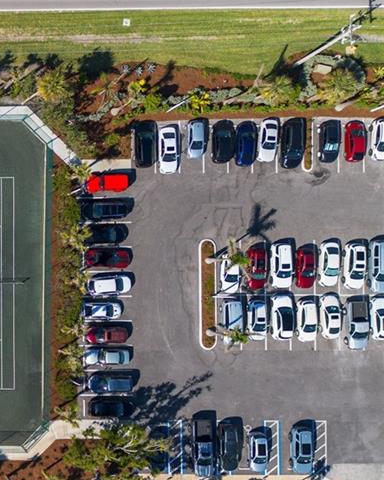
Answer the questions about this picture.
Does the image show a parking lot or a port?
parking lot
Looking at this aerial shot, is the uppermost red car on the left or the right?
right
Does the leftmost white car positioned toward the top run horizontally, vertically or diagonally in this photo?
vertically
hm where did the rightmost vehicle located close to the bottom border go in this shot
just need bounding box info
[288,425,314,470]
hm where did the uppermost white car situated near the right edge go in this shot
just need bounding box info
[364,120,384,161]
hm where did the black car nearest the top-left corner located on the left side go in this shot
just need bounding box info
[133,121,158,167]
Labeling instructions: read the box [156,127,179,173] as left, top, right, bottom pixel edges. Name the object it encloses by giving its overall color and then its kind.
white car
